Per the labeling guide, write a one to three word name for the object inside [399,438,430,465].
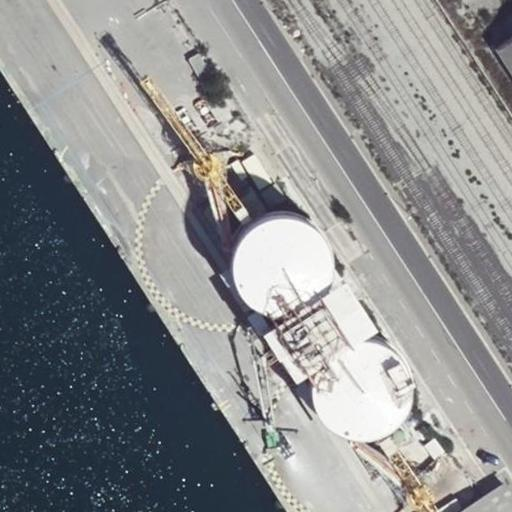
building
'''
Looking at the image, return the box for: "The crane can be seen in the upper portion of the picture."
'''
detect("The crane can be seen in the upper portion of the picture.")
[137,73,248,241]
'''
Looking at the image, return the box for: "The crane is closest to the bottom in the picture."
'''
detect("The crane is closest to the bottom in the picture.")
[353,443,460,512]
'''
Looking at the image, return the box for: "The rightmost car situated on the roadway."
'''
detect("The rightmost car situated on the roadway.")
[478,450,500,465]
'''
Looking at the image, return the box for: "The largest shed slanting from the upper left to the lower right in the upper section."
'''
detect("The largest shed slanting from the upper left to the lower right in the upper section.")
[242,153,292,212]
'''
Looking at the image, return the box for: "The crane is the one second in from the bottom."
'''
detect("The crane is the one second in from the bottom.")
[241,338,299,458]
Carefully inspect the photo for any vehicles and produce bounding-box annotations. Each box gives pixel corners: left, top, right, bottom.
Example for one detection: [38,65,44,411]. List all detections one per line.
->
[192,96,219,127]
[178,108,198,134]
[478,450,500,465]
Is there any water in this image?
Yes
